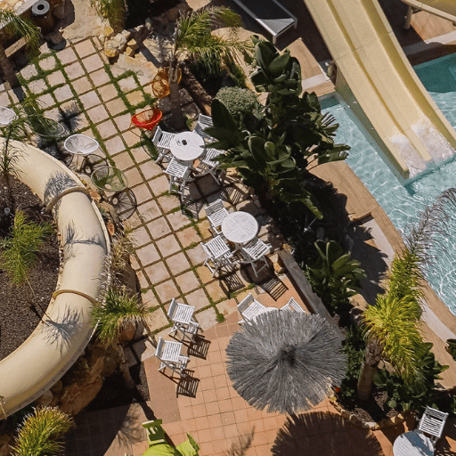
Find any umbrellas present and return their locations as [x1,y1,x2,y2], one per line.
[223,309,350,428]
